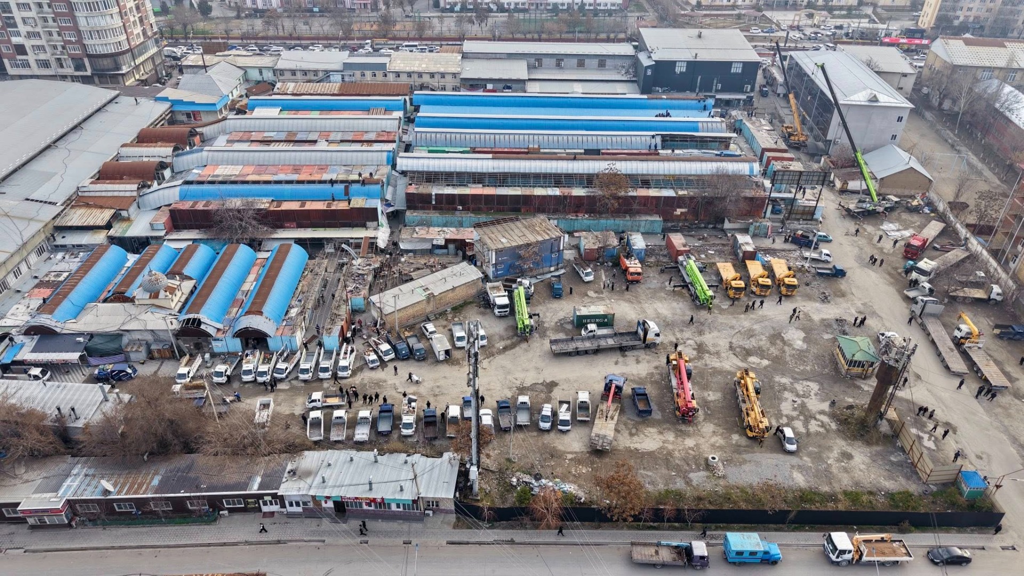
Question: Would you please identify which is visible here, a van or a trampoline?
van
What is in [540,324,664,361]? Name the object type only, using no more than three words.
truck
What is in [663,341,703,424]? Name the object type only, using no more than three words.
crane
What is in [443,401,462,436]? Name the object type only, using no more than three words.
vehicle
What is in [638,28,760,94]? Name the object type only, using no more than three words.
building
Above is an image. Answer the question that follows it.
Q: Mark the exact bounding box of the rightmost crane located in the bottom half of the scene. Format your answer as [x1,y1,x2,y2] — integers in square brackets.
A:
[730,355,773,444]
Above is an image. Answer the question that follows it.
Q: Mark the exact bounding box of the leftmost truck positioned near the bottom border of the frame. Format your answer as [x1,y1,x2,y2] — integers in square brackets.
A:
[628,528,715,568]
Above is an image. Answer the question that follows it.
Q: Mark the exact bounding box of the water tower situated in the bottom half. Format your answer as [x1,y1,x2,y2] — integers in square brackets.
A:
[863,324,926,423]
